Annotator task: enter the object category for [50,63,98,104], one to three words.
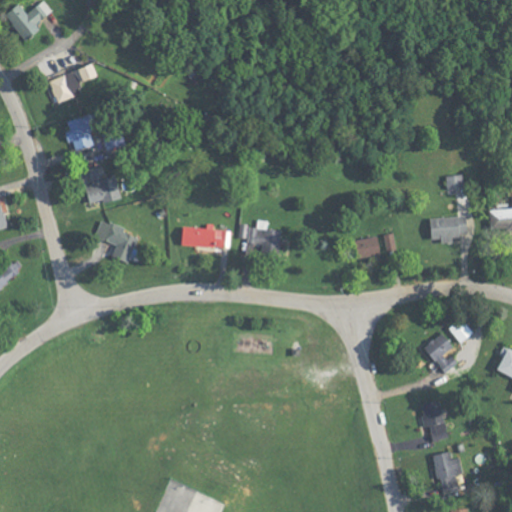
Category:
house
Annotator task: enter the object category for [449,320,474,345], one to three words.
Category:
building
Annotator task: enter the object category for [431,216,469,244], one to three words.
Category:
house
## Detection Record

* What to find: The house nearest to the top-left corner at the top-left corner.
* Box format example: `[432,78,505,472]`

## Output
[7,0,52,40]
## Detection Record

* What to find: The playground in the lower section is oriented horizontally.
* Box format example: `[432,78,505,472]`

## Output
[234,336,273,354]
